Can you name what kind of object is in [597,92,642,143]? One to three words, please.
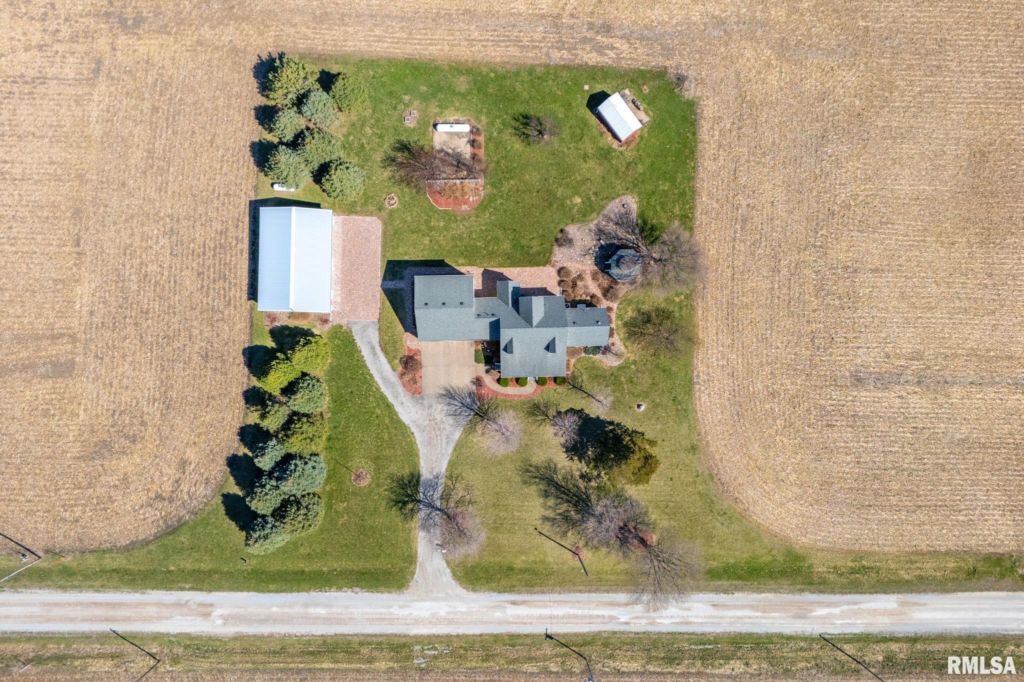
shed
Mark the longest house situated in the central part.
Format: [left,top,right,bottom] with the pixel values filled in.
[414,274,610,382]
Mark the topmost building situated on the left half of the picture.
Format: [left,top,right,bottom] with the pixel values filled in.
[257,207,337,322]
